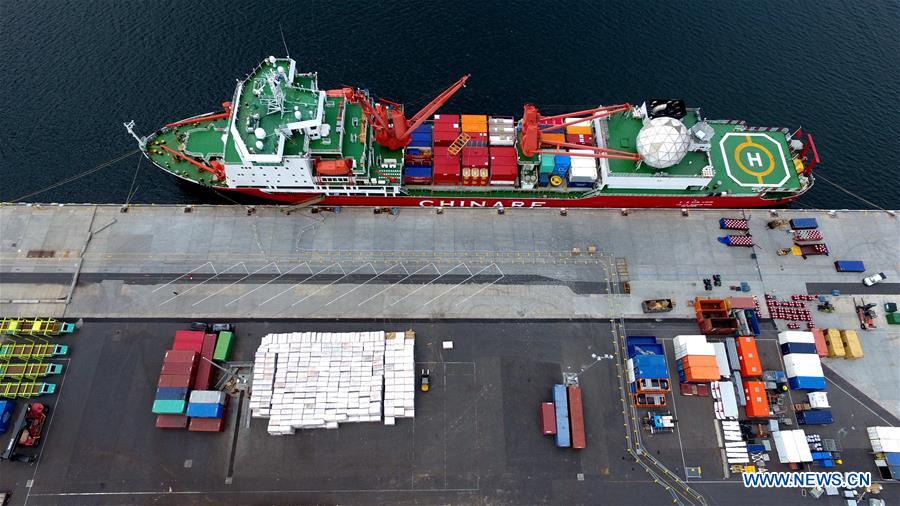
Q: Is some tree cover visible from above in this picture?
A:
No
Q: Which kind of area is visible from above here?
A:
port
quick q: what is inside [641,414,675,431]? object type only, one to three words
vehicle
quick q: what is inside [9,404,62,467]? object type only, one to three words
work vehicle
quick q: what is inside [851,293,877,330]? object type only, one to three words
work vehicle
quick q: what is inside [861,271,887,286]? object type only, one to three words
vehicle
